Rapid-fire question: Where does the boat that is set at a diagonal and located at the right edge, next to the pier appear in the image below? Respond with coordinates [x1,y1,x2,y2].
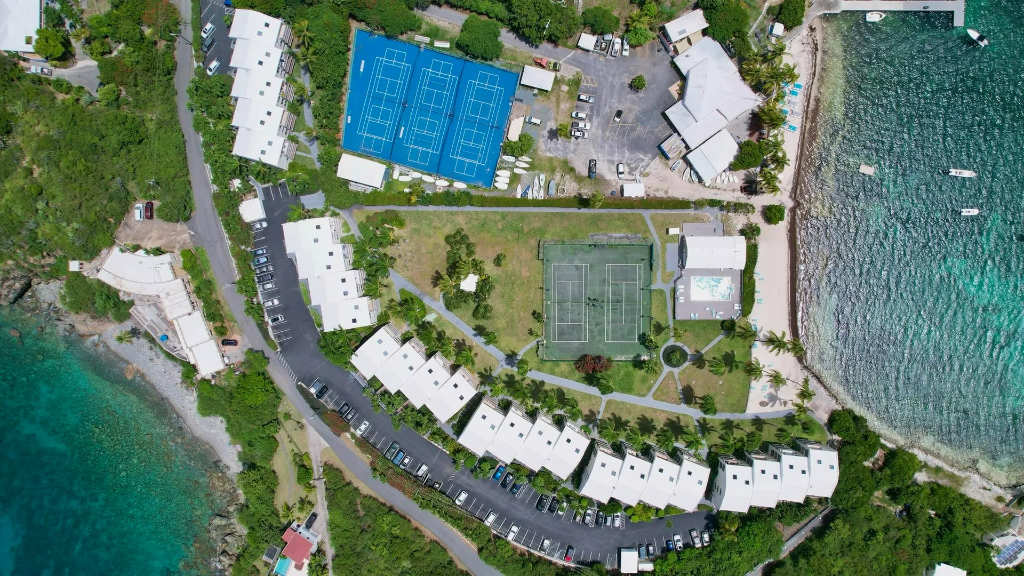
[966,31,987,48]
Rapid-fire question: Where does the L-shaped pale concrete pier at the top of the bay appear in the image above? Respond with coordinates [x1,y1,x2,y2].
[811,0,964,27]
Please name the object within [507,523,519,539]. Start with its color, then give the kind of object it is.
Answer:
white vehicle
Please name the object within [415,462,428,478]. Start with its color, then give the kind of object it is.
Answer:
white vehicle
